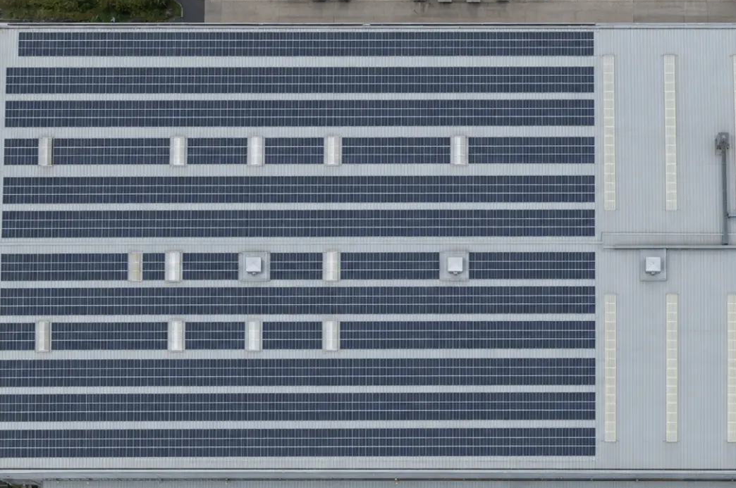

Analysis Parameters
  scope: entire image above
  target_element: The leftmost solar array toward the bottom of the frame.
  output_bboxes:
[0,322,35,349]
